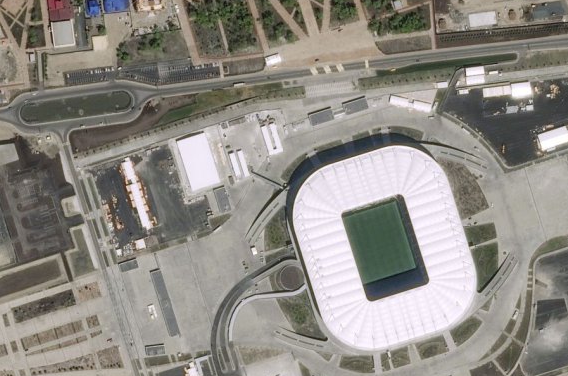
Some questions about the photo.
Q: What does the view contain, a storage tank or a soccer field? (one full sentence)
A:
The one in the frame is a soccer field.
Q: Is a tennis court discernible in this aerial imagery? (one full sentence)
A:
No, no tennis court is visible in the view.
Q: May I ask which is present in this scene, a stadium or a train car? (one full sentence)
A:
Visible in the photo is a stadium.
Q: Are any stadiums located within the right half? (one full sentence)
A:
Yes, a stadium is visible within the right half.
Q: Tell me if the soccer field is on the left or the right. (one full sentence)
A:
The soccer field sits on the right side.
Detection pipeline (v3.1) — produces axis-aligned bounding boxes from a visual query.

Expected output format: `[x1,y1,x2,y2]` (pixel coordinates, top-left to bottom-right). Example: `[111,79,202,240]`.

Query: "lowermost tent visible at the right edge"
[536,125,568,151]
